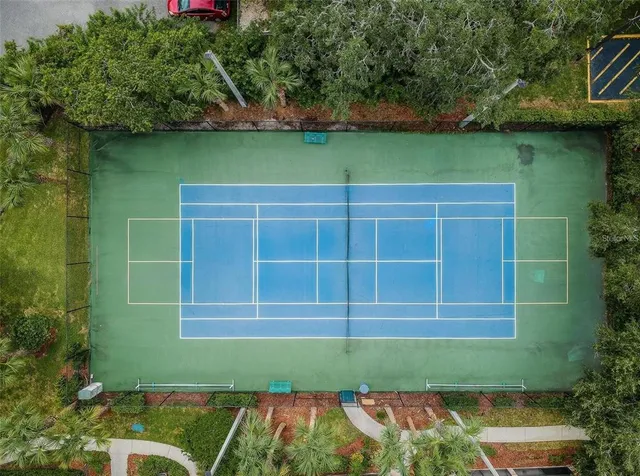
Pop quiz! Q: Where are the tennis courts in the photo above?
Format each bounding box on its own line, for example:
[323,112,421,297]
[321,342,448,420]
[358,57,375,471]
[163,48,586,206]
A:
[90,131,604,391]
